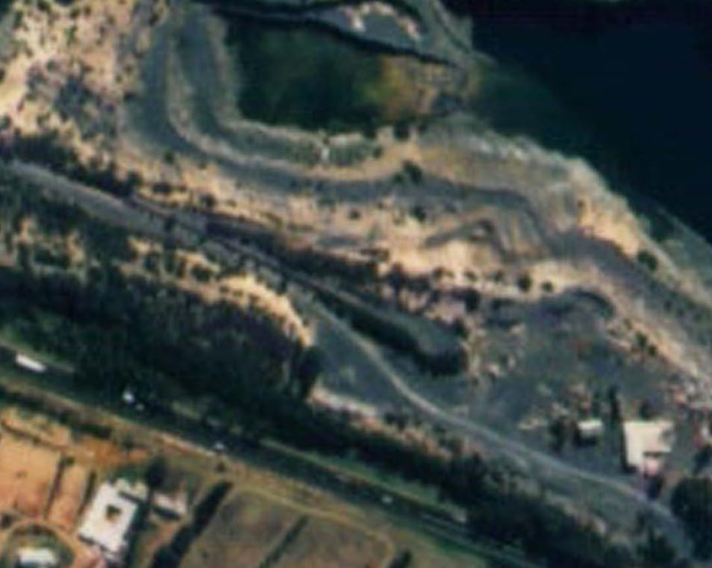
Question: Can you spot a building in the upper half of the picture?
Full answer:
No, there is no building in the upper half of the picture.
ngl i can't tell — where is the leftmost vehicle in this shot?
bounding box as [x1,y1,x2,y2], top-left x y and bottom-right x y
[14,356,42,369]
